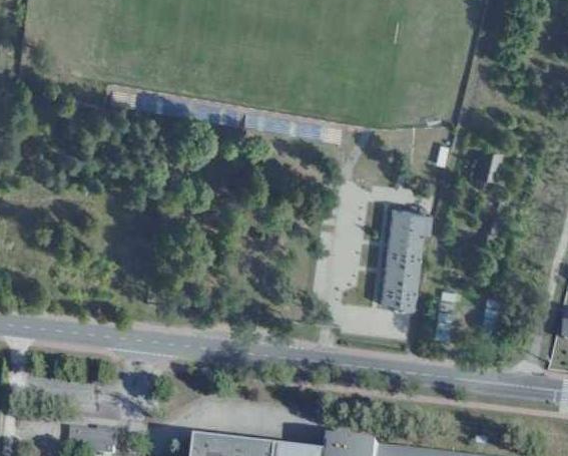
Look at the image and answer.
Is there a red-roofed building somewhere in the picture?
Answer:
No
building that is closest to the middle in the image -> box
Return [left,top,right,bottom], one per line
[380,210,434,316]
